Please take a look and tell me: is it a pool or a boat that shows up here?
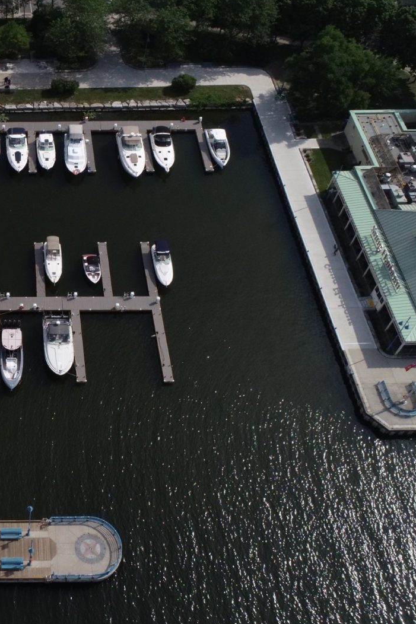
boat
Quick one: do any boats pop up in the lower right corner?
No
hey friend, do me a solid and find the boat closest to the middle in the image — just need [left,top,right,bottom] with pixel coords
[150,240,174,287]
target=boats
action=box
[63,123,87,176]
[42,311,73,372]
[81,254,100,284]
[43,236,63,284]
[119,125,148,176]
[205,130,230,168]
[1,323,22,386]
[150,123,176,171]
[7,126,29,172]
[150,240,174,287]
[36,130,57,170]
